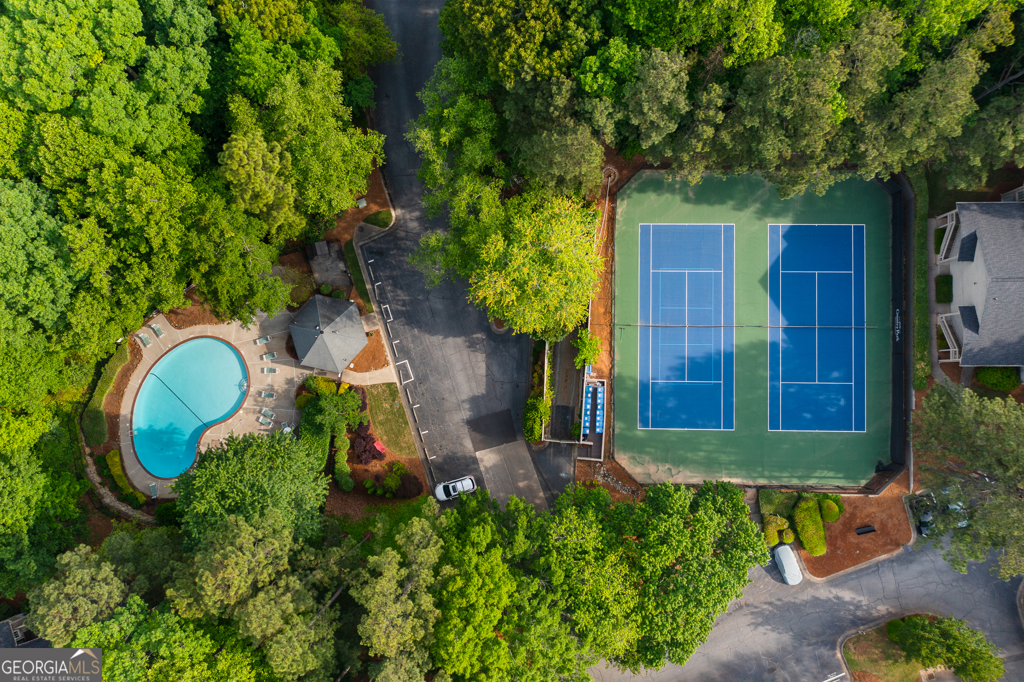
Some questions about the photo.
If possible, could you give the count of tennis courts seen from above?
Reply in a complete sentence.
The picture shows 2 tennis courts.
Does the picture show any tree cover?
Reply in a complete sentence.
Yes, some tree cover is visible.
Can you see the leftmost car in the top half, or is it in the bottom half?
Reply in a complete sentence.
The leftmost car is in the bottom half of the image.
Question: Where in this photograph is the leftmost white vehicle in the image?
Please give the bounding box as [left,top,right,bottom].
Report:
[434,475,478,500]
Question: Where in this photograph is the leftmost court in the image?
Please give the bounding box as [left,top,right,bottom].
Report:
[614,171,751,485]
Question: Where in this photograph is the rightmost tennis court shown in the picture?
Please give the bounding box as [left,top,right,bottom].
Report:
[751,173,891,486]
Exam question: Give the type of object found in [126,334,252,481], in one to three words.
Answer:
swimming pool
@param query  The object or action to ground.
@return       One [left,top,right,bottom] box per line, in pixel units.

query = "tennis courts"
[751,173,891,486]
[614,171,751,485]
